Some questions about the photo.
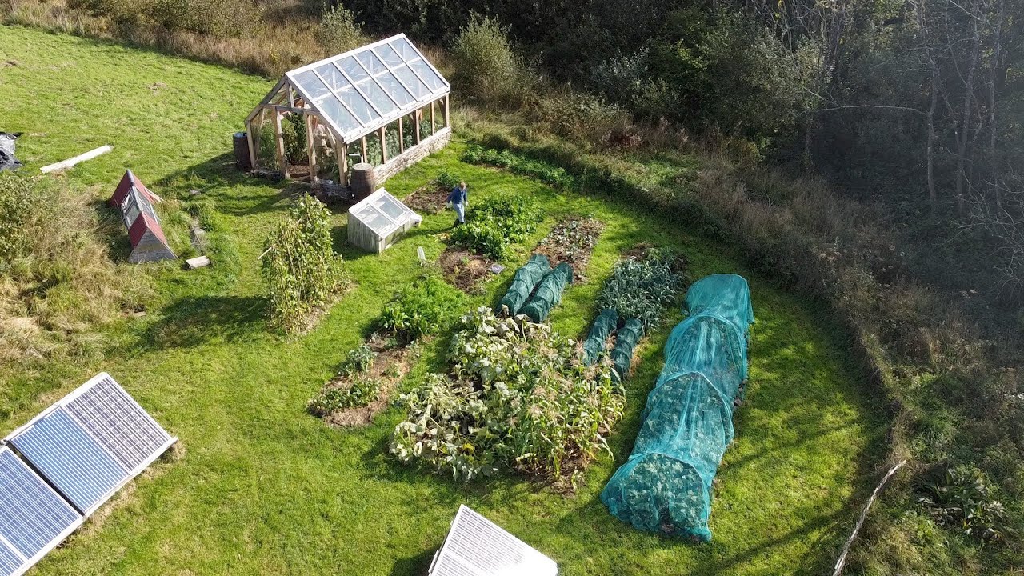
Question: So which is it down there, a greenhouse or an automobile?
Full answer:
Looking from above, you can make out a greenhouse.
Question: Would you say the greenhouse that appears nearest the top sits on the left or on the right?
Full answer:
The greenhouse that appears nearest the top appears in the left half of the scene.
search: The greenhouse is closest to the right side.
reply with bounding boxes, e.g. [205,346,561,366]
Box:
[239,33,458,190]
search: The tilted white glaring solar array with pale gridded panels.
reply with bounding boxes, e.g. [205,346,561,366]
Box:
[426,504,557,576]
